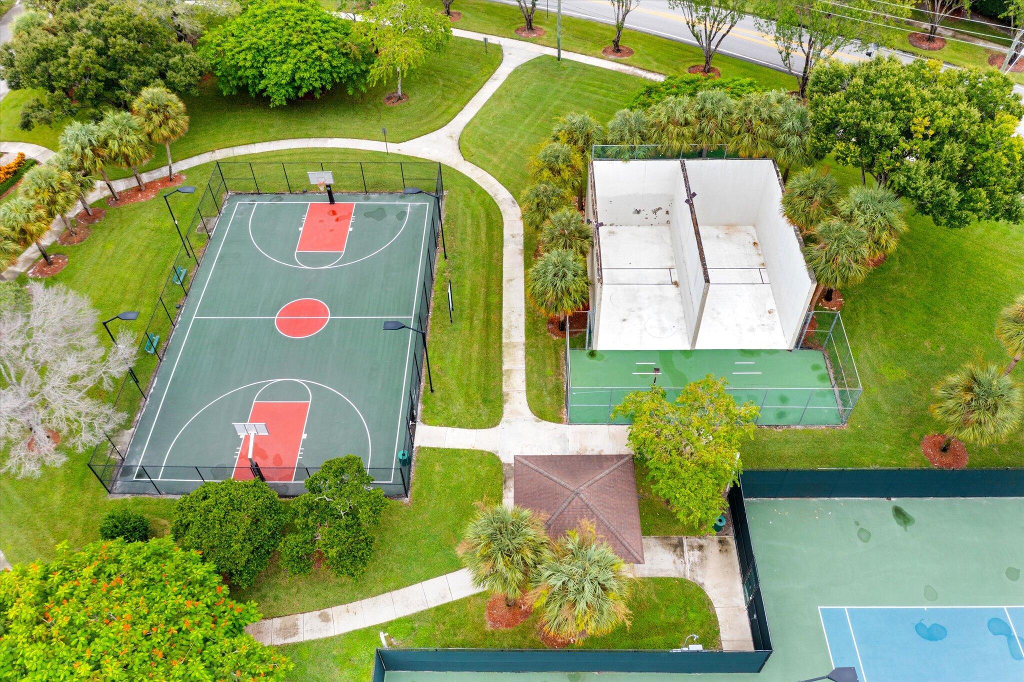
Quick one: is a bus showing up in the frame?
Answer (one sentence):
No, there is no bus in the image.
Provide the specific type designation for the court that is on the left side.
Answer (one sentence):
From above, the court that is on the left side can be identified as a basketball court.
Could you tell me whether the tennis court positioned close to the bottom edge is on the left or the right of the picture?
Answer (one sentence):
The tennis court positioned close to the bottom edge is on the right side of the image.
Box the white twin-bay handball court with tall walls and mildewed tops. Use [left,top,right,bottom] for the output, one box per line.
[584,157,820,349]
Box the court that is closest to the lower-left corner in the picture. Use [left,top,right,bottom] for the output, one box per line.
[106,193,444,498]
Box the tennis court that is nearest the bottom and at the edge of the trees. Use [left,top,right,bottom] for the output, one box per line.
[384,497,1024,682]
